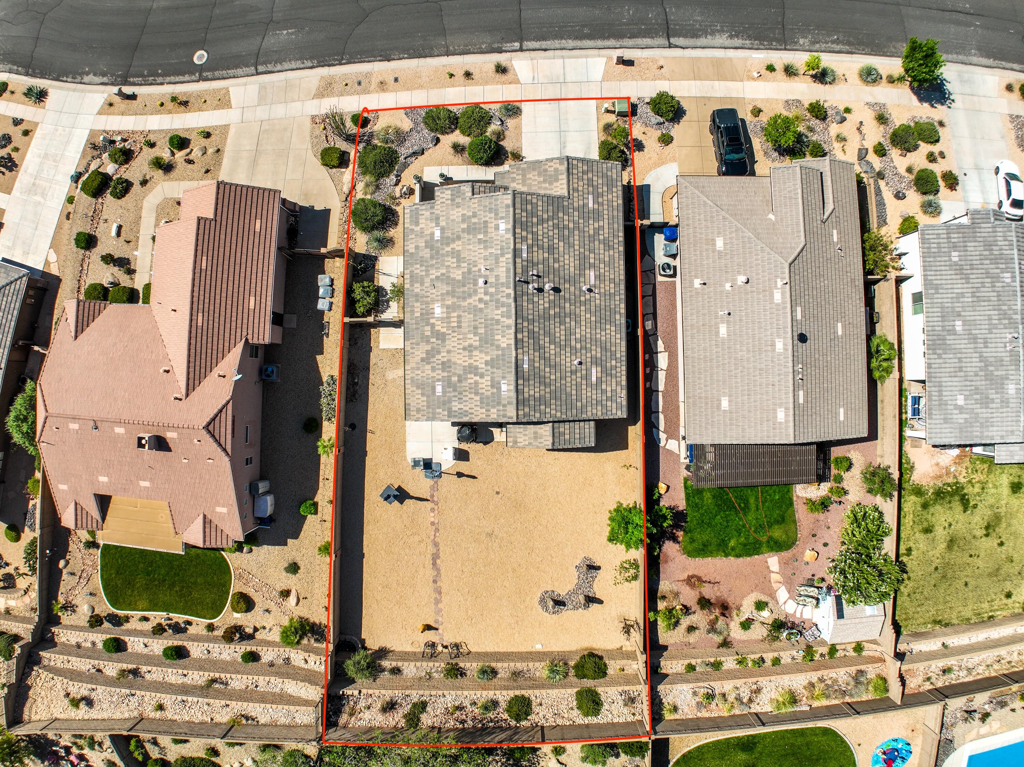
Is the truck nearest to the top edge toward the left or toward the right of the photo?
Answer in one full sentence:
It is on the right.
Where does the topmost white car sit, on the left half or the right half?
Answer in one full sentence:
The topmost white car is on the right side of the image.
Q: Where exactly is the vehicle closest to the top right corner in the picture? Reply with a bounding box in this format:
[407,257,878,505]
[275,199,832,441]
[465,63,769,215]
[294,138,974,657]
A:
[989,158,1024,224]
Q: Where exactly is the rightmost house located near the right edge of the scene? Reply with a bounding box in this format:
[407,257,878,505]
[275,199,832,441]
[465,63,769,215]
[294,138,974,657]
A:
[900,208,1024,464]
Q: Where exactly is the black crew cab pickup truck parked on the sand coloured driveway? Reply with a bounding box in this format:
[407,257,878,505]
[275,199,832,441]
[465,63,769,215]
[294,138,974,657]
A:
[707,107,751,176]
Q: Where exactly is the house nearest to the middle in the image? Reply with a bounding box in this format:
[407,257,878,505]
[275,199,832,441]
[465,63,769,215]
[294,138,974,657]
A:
[402,155,627,450]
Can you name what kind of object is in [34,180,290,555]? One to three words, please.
house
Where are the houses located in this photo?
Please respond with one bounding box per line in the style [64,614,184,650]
[402,155,627,450]
[0,260,51,473]
[900,208,1024,464]
[34,180,290,555]
[673,157,868,445]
